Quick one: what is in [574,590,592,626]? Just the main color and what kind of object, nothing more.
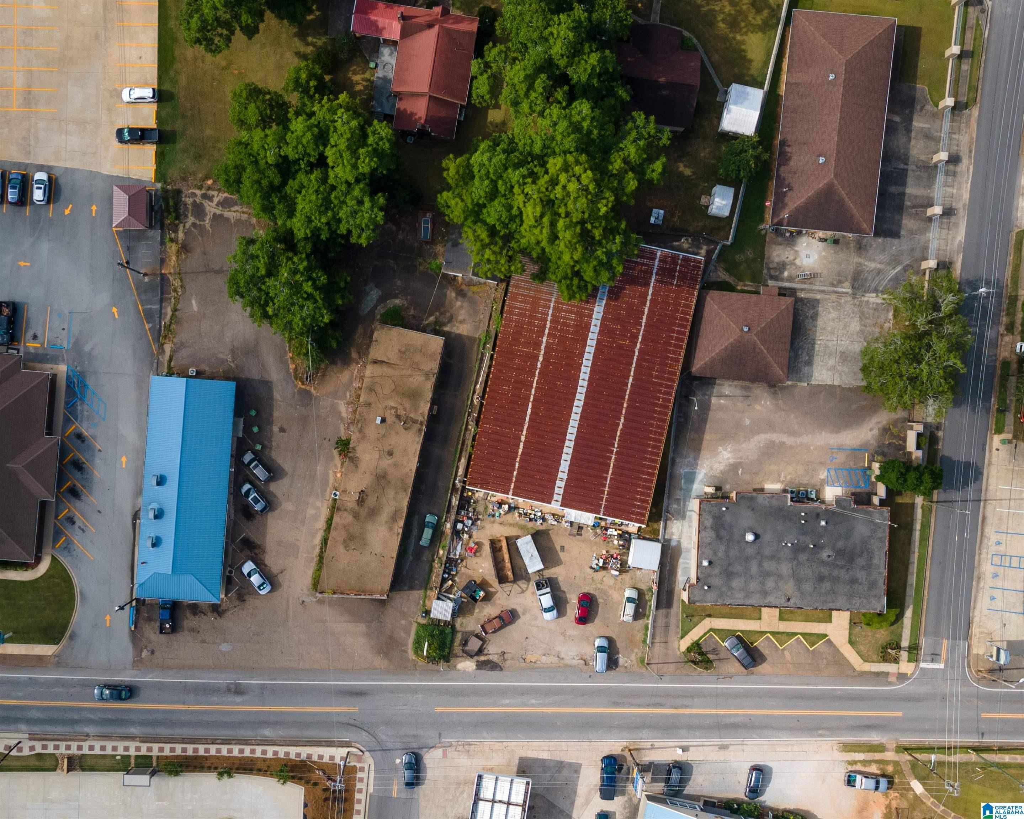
red car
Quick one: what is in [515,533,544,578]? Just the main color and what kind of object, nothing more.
white trailer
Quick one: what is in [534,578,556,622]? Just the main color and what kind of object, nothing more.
white truck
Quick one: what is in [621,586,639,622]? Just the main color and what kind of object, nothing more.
white car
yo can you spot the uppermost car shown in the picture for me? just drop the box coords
[123,85,161,105]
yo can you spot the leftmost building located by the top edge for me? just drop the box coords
[351,0,479,144]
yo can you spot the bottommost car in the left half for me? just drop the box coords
[400,750,418,789]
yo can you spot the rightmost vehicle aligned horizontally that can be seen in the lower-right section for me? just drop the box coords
[842,770,887,793]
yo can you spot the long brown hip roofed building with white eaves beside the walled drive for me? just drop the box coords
[766,8,898,237]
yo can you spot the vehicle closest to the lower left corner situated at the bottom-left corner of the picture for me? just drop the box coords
[95,683,133,702]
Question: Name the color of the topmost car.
white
